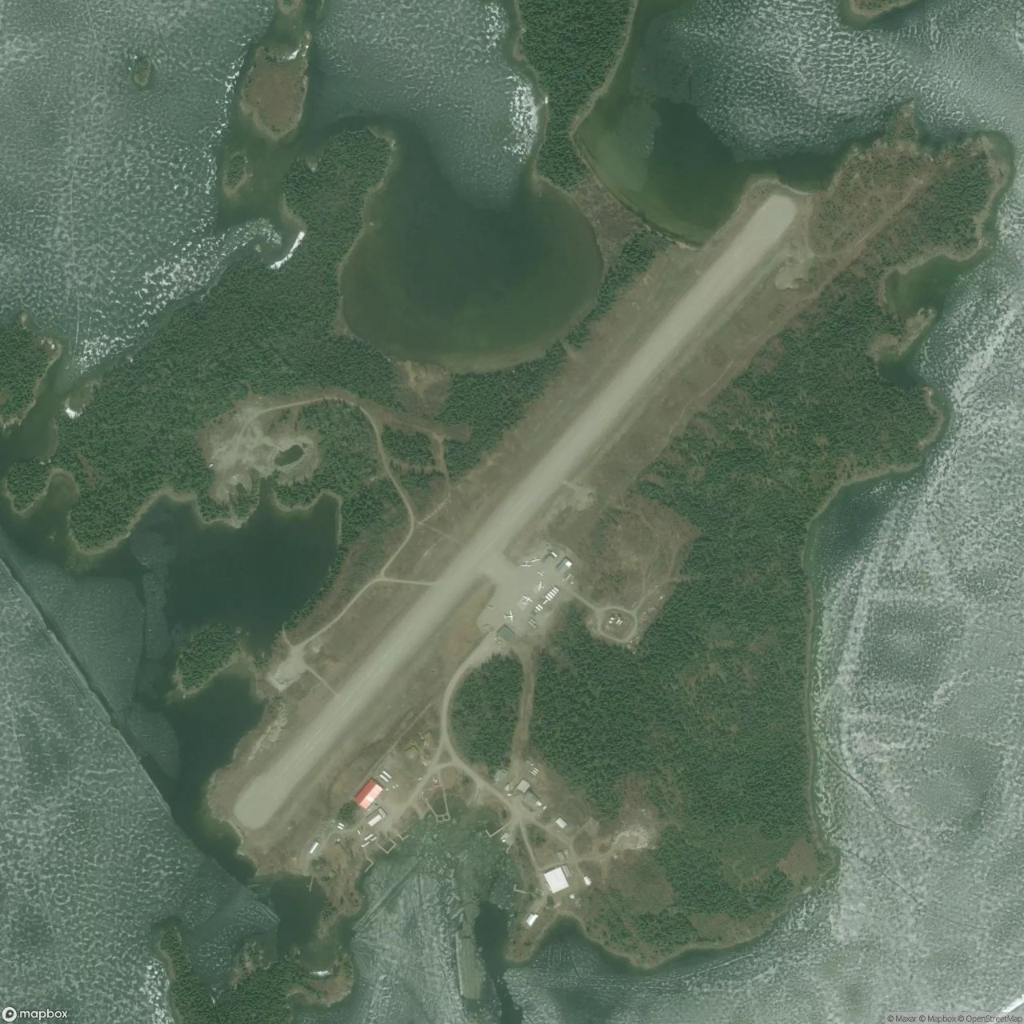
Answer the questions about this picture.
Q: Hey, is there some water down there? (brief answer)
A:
Yes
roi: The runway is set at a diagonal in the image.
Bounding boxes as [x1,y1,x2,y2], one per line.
[232,194,798,829]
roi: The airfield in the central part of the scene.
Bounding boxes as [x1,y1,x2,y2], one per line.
[232,194,798,829]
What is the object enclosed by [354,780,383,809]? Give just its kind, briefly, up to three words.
building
